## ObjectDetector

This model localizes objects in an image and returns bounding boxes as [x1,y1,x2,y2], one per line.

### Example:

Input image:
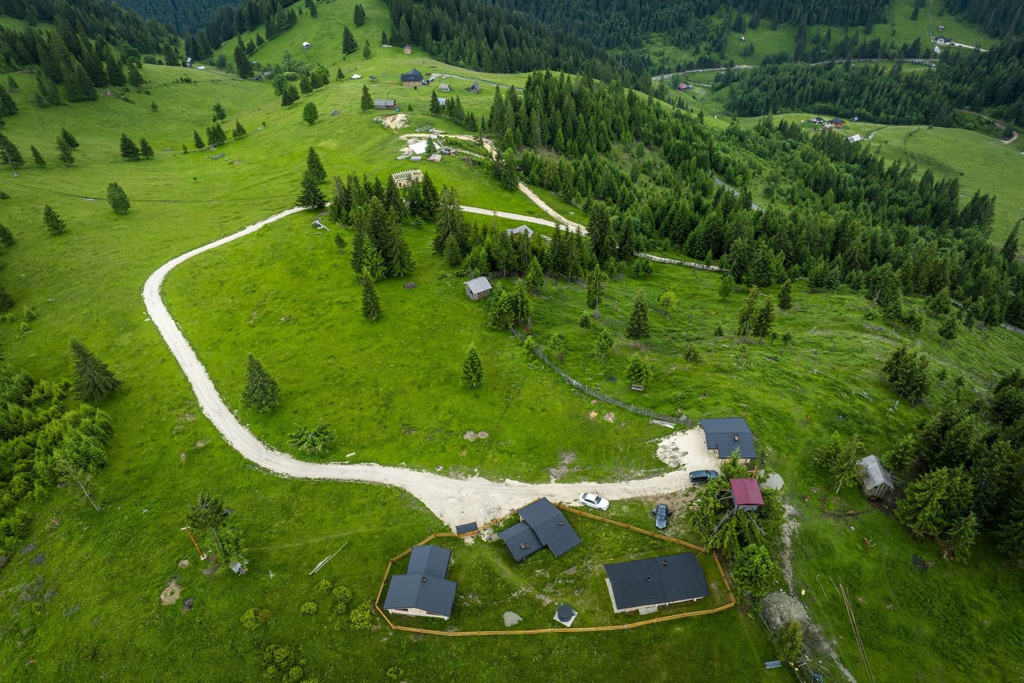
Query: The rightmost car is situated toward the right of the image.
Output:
[688,468,720,483]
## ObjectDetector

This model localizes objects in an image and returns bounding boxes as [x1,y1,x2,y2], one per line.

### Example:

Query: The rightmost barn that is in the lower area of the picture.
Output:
[860,454,904,499]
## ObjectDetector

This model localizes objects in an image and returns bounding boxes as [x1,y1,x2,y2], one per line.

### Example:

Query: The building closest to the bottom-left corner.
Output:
[381,545,457,624]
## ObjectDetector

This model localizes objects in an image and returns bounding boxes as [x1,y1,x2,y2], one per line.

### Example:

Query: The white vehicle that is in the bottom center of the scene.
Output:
[578,490,611,512]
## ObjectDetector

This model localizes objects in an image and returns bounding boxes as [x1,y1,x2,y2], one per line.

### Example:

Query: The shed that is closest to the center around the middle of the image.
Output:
[466,280,492,301]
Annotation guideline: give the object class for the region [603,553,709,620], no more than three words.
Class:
building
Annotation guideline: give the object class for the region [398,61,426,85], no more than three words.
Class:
house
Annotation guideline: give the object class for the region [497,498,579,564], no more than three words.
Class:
building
